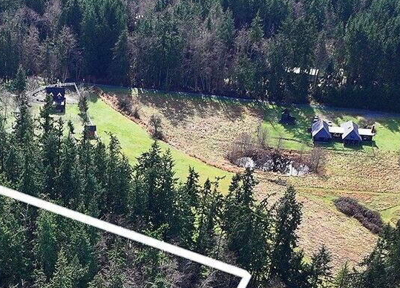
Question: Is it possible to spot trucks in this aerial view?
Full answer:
No, there isn't any truck down there.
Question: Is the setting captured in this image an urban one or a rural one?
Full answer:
It looks rural.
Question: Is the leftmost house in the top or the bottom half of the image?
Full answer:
The top half of the photo is where the leftmost house is.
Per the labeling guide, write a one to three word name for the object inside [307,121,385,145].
house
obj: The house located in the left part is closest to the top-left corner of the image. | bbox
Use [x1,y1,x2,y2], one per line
[43,84,66,109]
